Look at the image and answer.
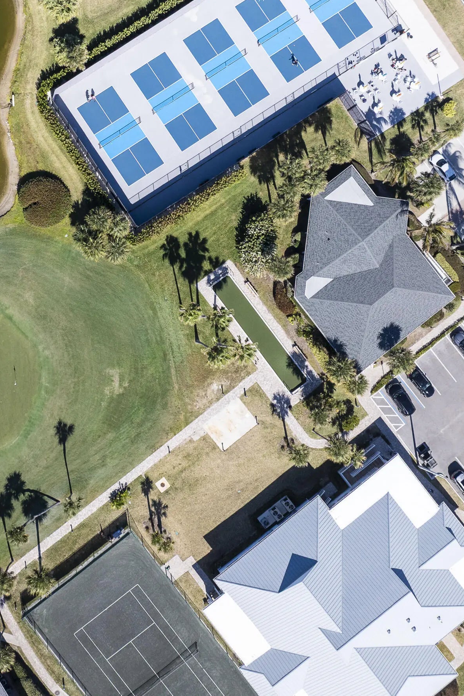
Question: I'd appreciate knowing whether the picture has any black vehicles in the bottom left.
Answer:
No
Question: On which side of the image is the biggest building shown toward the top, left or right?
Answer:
right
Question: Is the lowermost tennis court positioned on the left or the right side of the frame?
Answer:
left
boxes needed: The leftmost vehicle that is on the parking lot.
[386,381,416,416]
